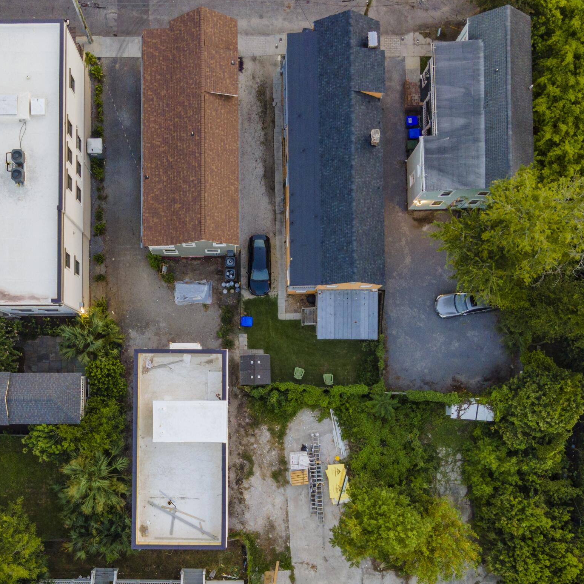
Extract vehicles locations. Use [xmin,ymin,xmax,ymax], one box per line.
[246,233,274,296]
[434,288,501,320]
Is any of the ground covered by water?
No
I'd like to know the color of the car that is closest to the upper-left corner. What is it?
black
